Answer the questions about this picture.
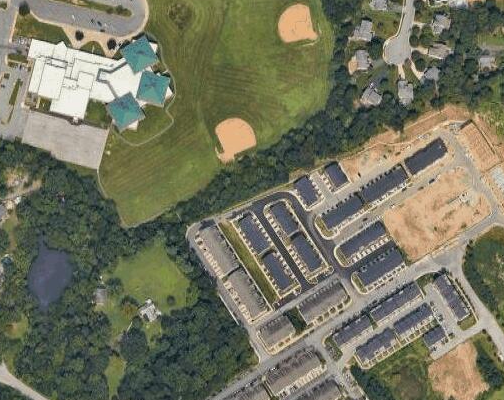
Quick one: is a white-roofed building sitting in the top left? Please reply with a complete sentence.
Yes, I can see a white-roofed building in the top left.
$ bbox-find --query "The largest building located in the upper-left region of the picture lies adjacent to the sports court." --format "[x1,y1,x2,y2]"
[27,36,173,130]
